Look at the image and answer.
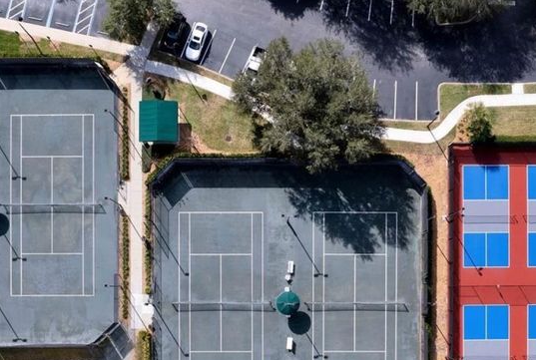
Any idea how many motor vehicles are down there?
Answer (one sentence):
The count of motor vehicles comes to 3.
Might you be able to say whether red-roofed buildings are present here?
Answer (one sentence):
No, no red-roofed building is visible in the view.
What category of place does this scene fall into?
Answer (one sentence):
What you see here is a sports ground.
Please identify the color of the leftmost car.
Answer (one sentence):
The leftmost car is black.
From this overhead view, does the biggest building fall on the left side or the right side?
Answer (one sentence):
It is on the left.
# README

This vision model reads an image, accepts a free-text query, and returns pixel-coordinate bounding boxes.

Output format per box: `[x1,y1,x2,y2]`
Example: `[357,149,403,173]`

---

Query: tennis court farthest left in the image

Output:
[0,66,119,346]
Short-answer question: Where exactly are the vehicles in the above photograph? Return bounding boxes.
[243,42,269,70]
[159,14,185,54]
[185,20,210,61]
